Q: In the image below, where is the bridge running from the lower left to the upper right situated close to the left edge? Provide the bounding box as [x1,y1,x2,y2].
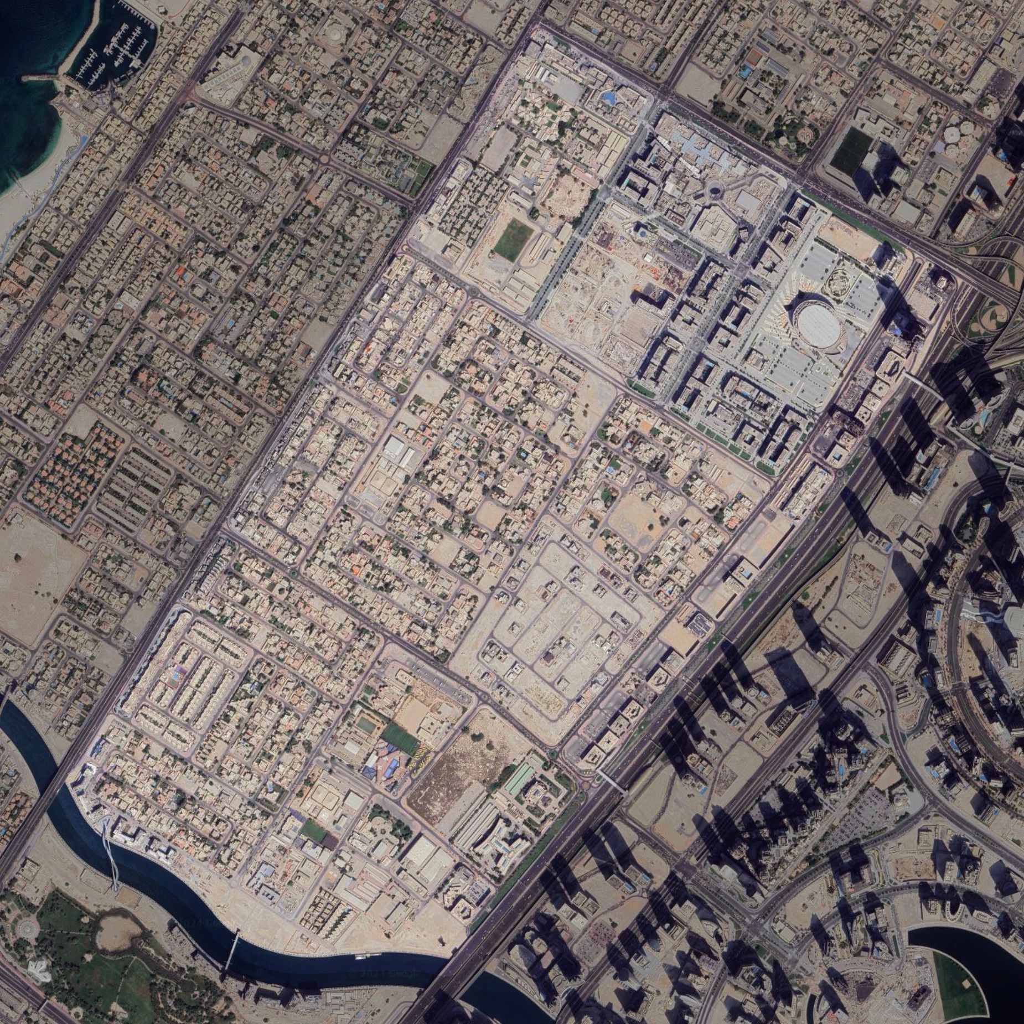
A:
[16,726,89,835]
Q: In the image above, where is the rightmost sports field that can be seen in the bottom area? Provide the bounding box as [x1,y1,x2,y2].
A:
[381,722,418,755]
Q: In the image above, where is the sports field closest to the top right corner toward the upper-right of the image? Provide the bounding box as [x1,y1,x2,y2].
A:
[830,127,873,177]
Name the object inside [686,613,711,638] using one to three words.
building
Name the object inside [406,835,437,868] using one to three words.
building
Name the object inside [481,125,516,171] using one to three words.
sports field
